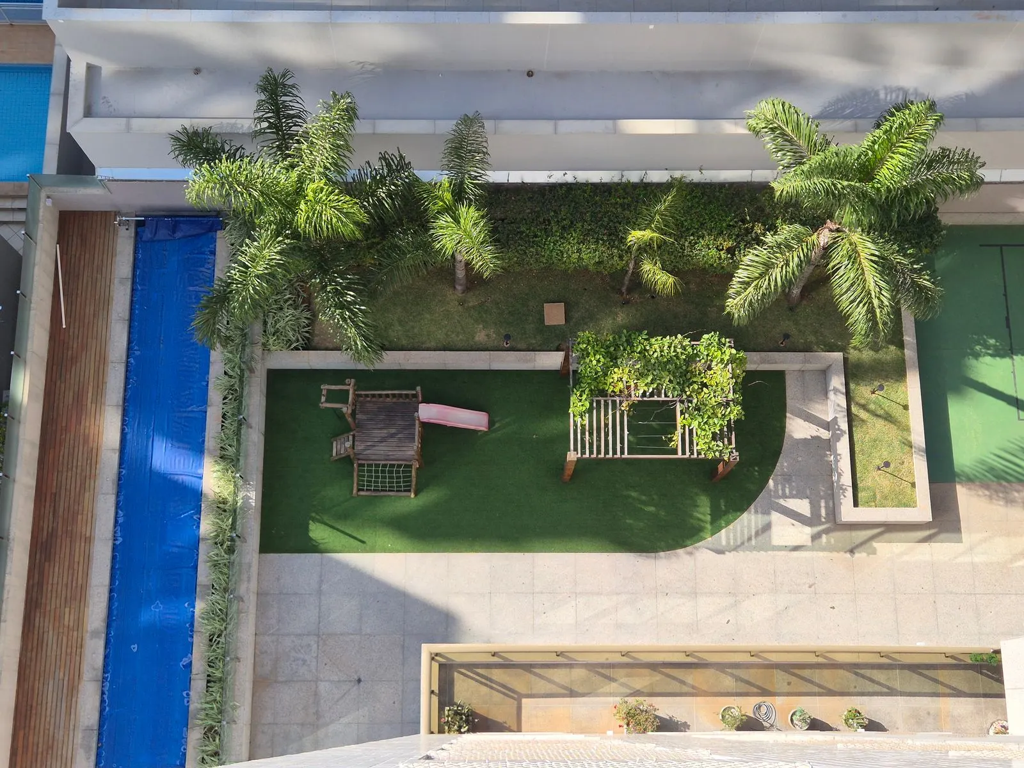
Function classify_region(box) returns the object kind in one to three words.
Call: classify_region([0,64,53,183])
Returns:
swimming pool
